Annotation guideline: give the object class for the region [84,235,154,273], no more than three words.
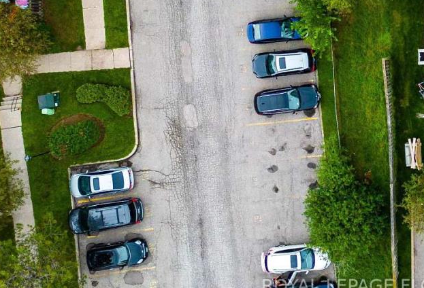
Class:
car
